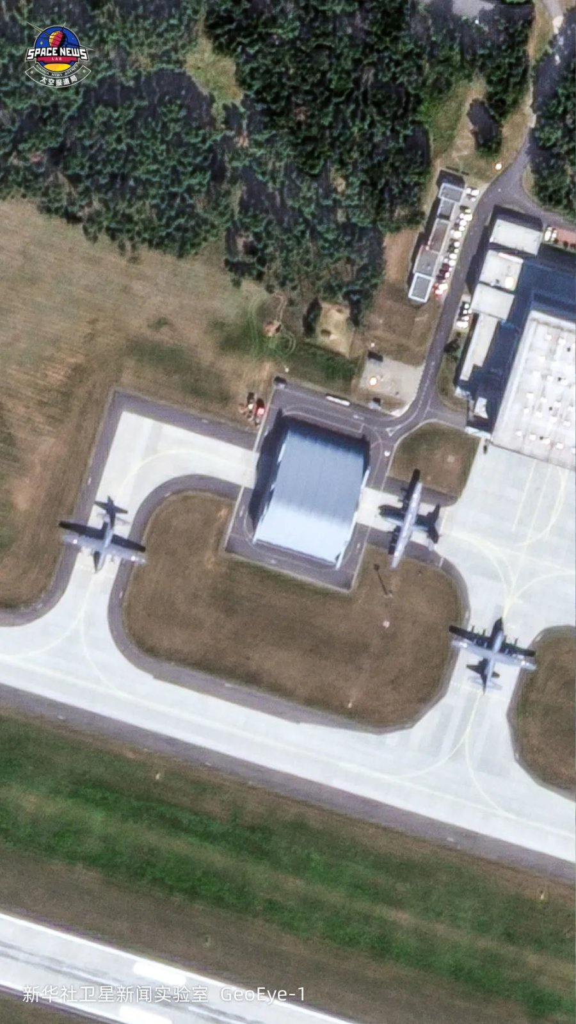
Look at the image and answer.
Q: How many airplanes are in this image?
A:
three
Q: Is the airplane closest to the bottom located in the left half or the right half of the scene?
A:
right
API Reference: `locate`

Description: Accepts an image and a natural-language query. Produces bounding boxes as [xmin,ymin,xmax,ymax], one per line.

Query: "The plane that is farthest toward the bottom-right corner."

[453,628,536,695]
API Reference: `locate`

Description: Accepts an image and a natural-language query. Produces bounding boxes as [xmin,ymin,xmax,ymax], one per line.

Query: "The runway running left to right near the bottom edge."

[0,914,349,1024]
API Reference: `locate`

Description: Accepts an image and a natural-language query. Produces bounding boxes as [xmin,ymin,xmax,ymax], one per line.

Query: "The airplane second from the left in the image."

[381,484,445,568]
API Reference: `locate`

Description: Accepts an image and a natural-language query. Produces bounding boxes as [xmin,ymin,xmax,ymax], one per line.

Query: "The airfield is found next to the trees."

[0,380,576,1024]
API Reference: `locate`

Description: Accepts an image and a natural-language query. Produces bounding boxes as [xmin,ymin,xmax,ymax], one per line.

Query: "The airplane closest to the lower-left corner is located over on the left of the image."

[62,512,147,571]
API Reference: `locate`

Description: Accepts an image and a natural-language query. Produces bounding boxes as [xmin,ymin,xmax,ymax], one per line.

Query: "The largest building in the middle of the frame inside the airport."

[252,418,371,568]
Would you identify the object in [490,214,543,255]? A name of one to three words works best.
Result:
building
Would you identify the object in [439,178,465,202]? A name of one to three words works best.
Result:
building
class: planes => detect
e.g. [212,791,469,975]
[453,628,536,695]
[381,484,445,568]
[62,512,147,571]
